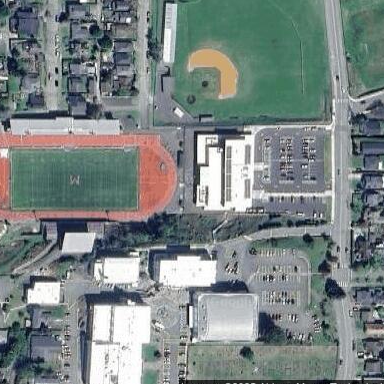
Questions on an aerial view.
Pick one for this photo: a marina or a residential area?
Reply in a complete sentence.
The picture captures a residential area.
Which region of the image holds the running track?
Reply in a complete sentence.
The running track is located in the left region of the scene.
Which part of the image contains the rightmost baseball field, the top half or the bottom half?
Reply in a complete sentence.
The rightmost baseball field is in the top half of the image.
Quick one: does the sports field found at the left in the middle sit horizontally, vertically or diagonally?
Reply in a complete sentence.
The sports field found at the left in the middle is oriented horizontally.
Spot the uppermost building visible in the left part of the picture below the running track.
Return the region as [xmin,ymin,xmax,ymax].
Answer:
[62,233,95,253]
